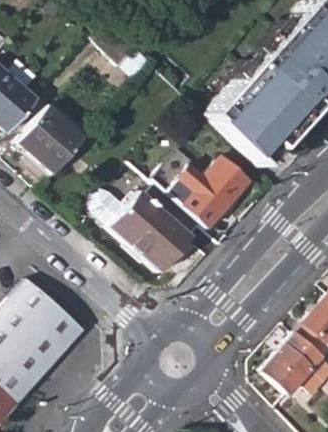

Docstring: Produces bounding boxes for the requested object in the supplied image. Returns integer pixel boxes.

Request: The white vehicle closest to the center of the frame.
[87,252,106,270]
